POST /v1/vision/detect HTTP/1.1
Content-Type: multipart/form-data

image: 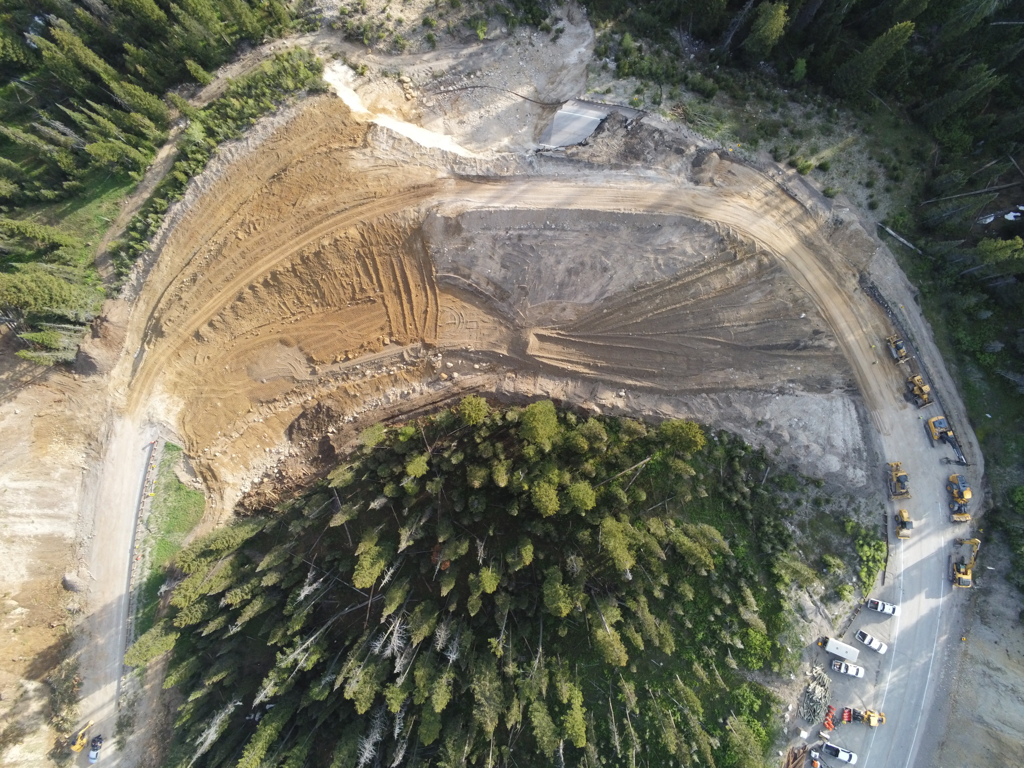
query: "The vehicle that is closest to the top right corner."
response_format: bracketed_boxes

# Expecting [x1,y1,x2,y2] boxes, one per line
[883,331,912,367]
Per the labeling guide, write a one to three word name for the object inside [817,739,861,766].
truck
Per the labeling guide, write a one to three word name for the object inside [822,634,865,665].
trailer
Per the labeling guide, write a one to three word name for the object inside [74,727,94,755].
work vehicle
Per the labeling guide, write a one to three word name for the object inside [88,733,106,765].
vehicle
